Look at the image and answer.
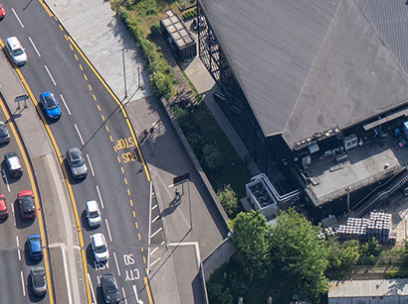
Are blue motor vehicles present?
Yes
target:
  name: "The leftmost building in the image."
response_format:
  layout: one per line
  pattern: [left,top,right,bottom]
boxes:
[160,14,197,62]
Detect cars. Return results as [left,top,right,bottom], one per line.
[29,268,47,297]
[25,237,42,262]
[66,148,87,178]
[4,154,22,178]
[0,195,8,221]
[92,236,109,263]
[18,191,36,220]
[0,4,5,19]
[5,36,28,65]
[85,201,103,229]
[0,122,8,145]
[40,92,61,120]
